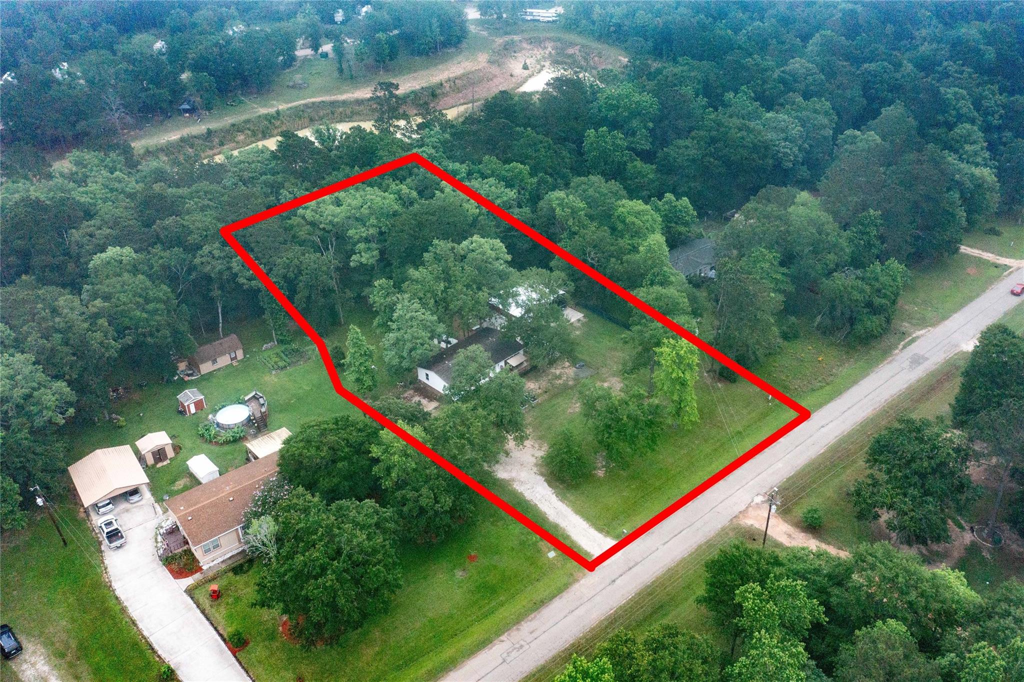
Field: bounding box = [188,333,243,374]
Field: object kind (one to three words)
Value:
shed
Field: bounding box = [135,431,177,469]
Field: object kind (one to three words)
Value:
shed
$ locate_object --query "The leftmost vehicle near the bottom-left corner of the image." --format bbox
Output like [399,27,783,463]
[0,622,29,668]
